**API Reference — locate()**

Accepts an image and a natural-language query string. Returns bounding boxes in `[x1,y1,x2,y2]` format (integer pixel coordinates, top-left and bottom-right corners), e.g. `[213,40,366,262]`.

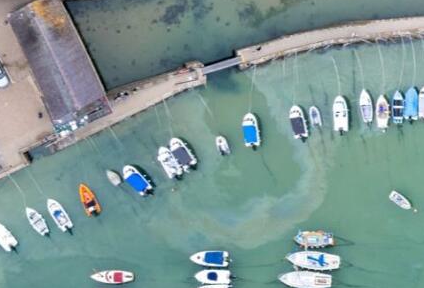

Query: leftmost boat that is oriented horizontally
[91,269,140,284]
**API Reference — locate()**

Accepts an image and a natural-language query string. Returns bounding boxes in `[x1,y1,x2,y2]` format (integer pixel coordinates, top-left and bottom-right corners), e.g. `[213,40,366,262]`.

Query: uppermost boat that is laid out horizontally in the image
[295,230,340,248]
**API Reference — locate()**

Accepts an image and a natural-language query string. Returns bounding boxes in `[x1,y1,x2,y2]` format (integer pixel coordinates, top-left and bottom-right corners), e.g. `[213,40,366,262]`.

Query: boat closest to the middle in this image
[217,135,232,159]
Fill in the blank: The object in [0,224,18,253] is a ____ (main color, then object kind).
white boat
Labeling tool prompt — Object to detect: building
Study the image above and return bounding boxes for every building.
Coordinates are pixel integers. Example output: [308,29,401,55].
[8,0,112,130]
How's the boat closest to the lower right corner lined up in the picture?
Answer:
diagonally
